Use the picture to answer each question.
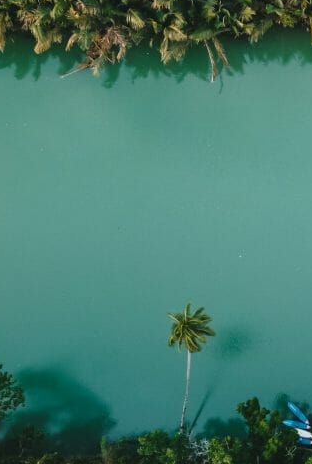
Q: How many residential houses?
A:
0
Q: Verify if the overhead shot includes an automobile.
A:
No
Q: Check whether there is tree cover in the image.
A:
Yes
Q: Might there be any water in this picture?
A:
Yes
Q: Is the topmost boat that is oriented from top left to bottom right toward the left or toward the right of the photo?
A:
right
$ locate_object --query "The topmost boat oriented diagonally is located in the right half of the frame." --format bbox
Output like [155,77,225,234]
[287,402,308,424]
